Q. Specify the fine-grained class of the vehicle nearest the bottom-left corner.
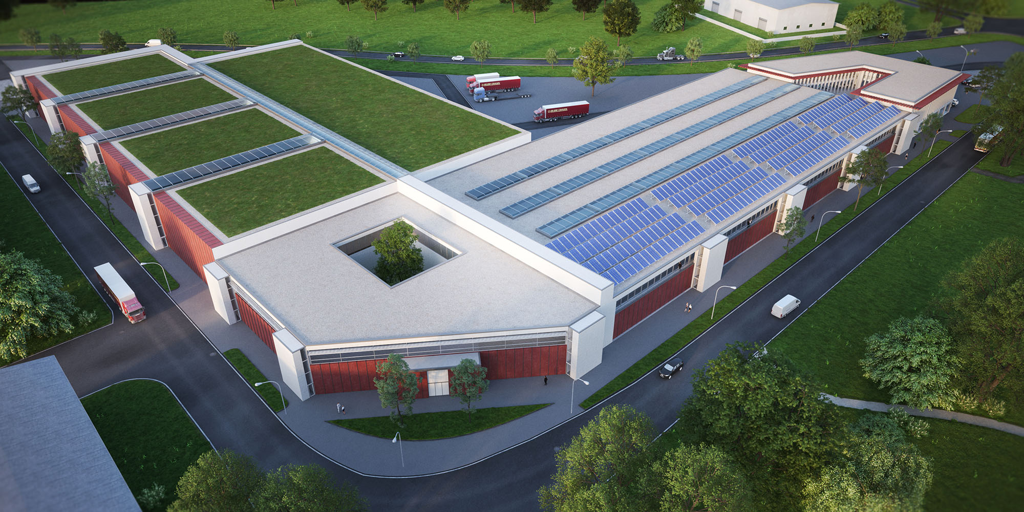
truck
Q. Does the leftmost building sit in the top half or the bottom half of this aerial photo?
bottom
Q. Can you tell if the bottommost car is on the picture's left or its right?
right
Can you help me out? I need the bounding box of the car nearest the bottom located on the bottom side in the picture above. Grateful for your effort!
[660,357,685,379]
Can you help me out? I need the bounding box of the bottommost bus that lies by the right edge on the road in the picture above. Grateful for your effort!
[973,127,999,152]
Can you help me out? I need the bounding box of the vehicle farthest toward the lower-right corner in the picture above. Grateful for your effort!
[774,296,800,318]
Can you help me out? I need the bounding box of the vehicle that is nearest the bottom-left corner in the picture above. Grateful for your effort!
[95,263,146,325]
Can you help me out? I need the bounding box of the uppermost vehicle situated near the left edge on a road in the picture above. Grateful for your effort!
[23,175,40,192]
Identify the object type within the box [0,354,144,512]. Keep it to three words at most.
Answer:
building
